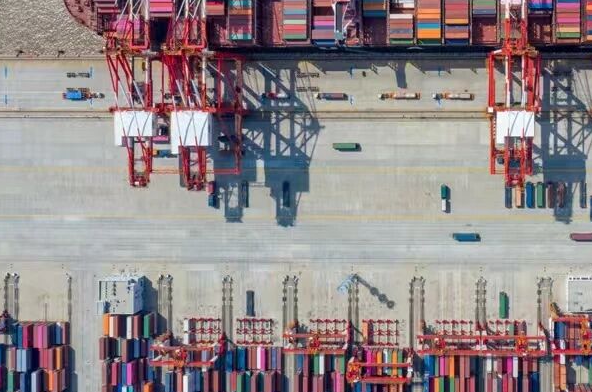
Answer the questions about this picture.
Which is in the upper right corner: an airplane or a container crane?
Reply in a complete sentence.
It is a container crane that can be seen in the upper right corner.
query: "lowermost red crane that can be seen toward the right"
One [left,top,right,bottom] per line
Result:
[347,346,415,381]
